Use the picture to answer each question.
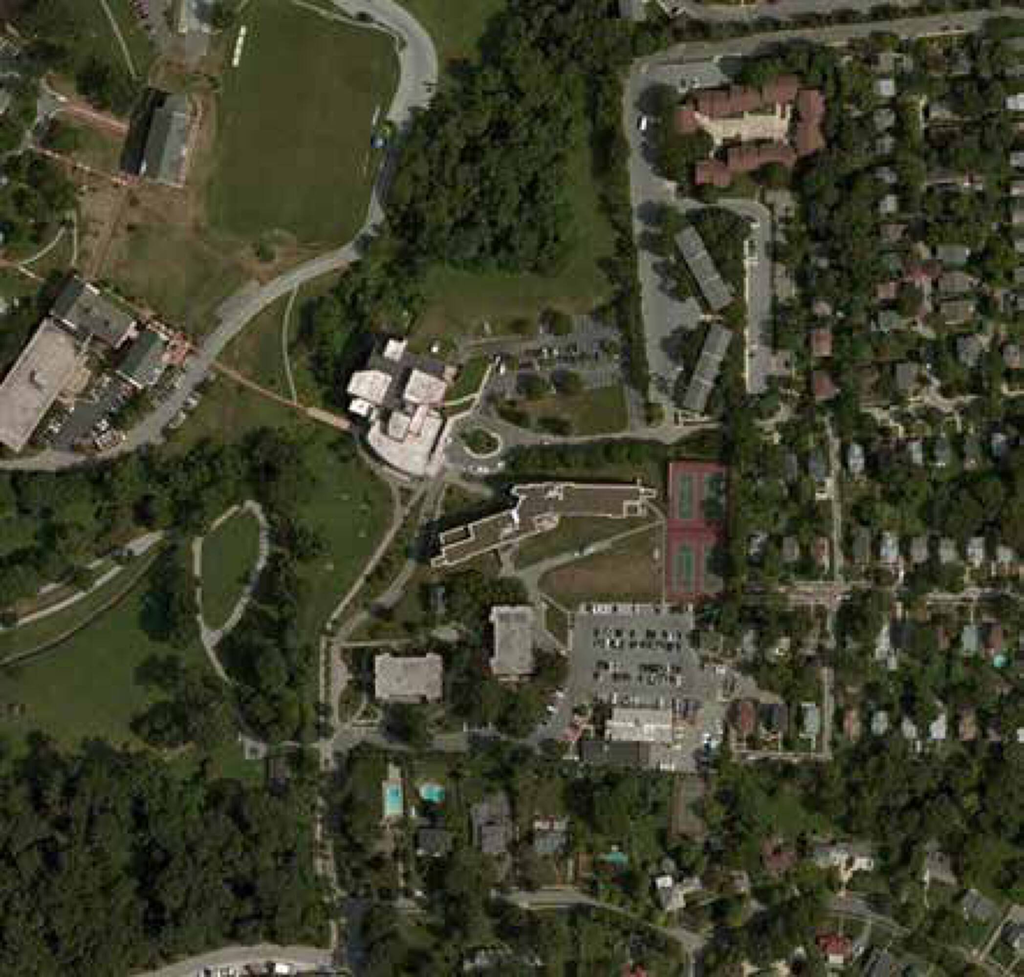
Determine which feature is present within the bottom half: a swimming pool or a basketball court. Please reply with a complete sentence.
There is a swimming pool within the bottom half.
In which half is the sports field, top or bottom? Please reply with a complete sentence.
The sports field sits in the top half of the picture.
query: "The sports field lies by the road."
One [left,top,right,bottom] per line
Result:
[212,13,397,260]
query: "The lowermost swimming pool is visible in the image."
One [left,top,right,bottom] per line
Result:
[596,851,630,866]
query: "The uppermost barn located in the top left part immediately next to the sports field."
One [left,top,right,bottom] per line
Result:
[140,94,187,188]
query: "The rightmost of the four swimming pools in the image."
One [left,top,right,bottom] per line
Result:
[991,652,1009,670]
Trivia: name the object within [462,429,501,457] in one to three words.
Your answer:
roundabout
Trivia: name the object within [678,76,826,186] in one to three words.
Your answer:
building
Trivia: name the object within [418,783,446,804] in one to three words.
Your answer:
swimming pool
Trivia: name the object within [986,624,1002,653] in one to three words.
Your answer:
house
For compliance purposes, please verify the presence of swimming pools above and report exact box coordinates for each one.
[991,652,1009,670]
[418,783,446,804]
[383,779,404,819]
[596,851,630,866]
